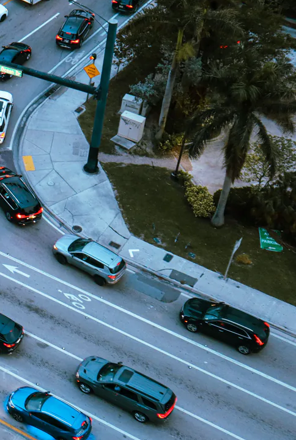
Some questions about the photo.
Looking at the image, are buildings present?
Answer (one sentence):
No, no building is visible in the view.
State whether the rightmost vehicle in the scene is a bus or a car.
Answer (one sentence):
I'd say the rightmost vehicle is a car.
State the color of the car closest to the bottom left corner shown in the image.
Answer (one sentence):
In this view, the car closest to the bottom left corner is blue.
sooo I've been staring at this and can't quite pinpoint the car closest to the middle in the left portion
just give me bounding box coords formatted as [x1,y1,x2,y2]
[54,235,132,289]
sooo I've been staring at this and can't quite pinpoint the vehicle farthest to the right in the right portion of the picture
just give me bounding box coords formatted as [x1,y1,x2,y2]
[180,297,279,358]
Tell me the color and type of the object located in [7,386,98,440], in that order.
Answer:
blue car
